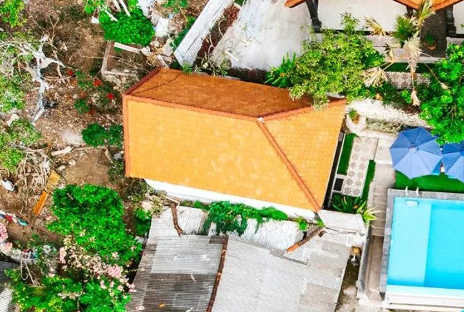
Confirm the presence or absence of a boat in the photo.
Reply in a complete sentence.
No, I can't see a single boat in this photo.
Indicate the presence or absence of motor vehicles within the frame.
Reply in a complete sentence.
No, no motor vehicle is visible in the view.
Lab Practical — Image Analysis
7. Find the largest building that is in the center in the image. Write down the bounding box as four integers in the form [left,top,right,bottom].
[123,65,354,225]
